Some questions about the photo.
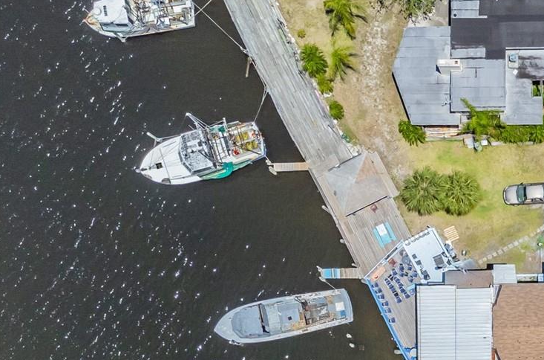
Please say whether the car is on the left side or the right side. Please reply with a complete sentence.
The car appears in the right half of the scene.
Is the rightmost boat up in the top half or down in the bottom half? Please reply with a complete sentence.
The rightmost boat sits in the bottom half of the picture.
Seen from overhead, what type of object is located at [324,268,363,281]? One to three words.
pier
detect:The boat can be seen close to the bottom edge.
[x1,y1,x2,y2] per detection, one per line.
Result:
[215,288,355,345]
